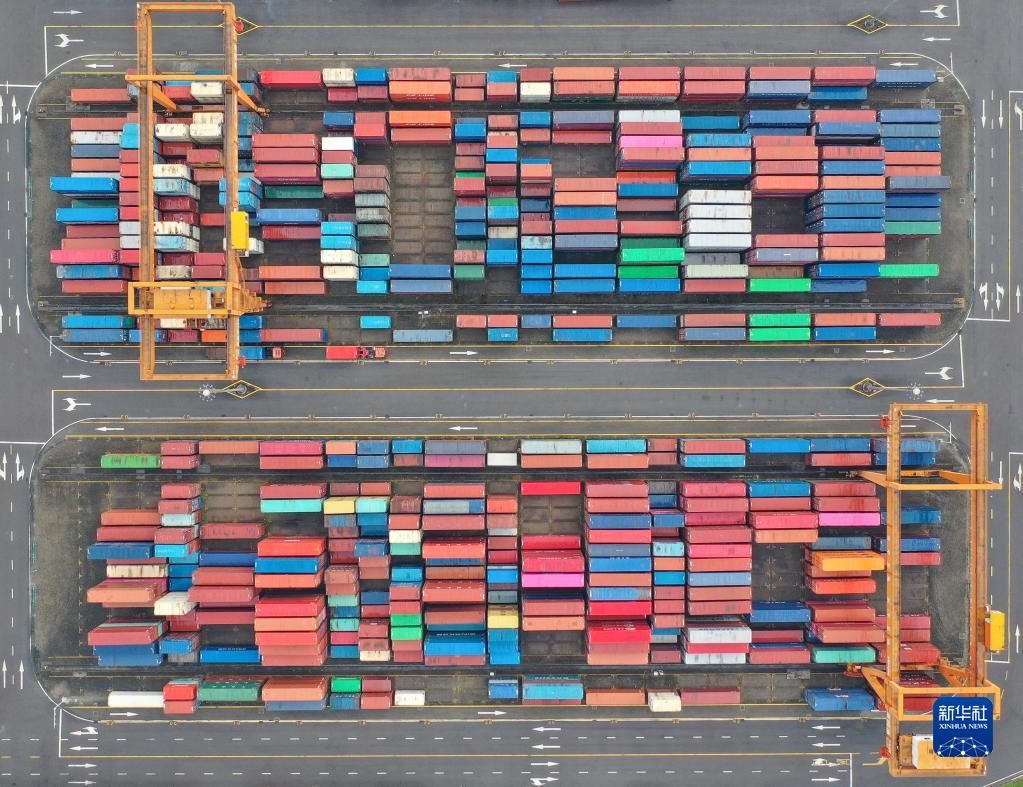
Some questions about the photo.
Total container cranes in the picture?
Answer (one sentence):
In total, there are 2 container cranes in the scene.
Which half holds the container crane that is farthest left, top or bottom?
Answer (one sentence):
The container crane that is farthest left sits in the top half of the picture.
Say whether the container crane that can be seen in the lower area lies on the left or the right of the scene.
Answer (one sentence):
The container crane that can be seen in the lower area is on the right side of the image.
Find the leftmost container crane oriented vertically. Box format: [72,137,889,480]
[126,2,273,382]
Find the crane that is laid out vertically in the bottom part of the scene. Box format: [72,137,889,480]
[835,402,1007,779]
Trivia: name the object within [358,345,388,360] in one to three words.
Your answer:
vehicle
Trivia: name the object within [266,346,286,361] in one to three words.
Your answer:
vehicle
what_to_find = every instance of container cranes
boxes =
[126,2,273,382]
[835,402,1007,779]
